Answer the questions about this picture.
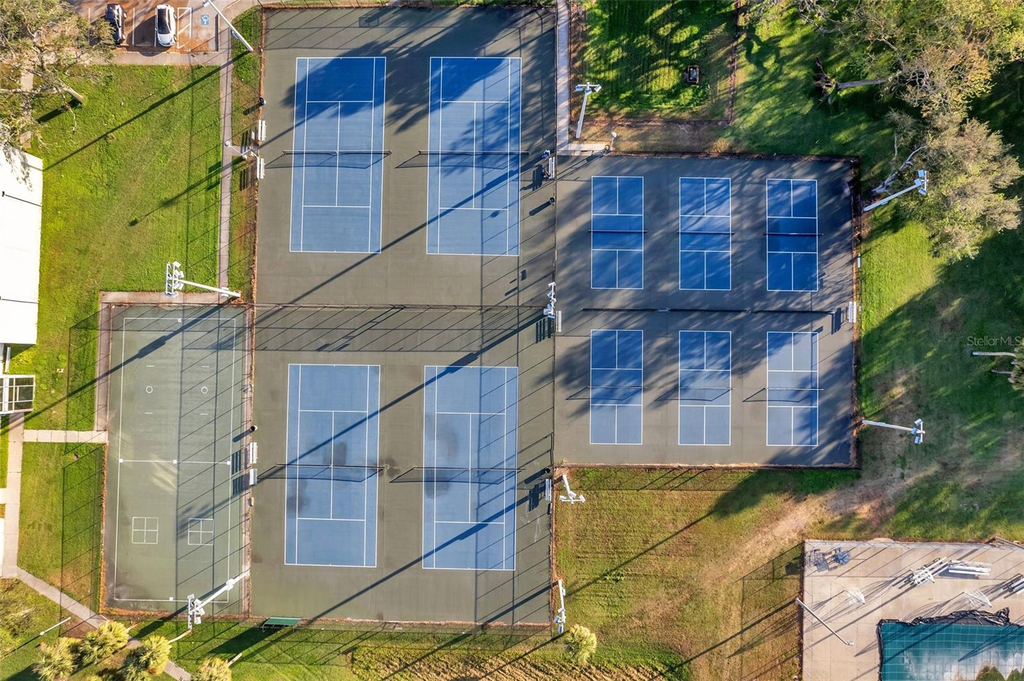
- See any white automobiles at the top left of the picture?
Yes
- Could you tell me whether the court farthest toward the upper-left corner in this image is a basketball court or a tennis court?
tennis court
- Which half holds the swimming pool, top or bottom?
bottom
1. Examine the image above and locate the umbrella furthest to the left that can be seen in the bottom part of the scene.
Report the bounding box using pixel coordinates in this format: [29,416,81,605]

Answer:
[842,585,870,613]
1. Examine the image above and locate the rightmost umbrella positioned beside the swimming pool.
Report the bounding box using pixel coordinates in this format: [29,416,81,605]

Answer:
[963,588,994,616]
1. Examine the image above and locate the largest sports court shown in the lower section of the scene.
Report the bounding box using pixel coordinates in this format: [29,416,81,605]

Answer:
[103,307,243,612]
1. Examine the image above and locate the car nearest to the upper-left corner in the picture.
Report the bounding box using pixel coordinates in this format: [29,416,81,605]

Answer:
[107,4,129,44]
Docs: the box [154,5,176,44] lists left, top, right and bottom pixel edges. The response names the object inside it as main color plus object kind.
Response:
white car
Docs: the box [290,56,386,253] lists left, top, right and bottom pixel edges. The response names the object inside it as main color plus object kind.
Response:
blue tennis court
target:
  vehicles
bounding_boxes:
[107,4,129,44]
[154,5,176,44]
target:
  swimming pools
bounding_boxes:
[883,624,1024,681]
